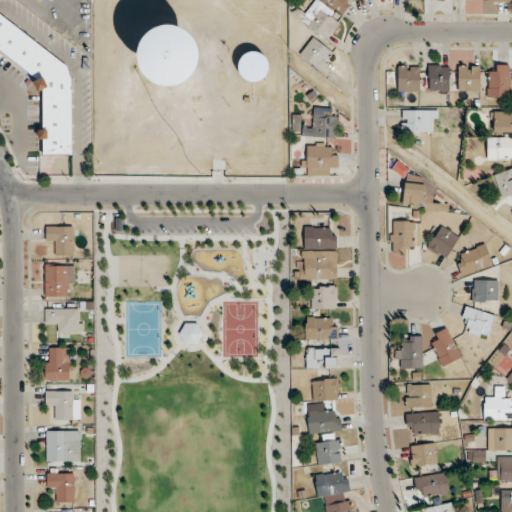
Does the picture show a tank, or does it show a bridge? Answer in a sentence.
This aerial view contains a tank.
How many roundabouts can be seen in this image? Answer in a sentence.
I count no roundabouts.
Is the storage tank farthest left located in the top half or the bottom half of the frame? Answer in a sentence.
The storage tank farthest left is in the top half of the image.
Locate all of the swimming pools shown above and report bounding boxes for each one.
[470,112,488,134]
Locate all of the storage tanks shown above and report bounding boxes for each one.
[137,24,199,86]
[236,50,269,98]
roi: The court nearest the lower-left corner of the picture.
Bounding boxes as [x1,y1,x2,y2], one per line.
[126,302,162,357]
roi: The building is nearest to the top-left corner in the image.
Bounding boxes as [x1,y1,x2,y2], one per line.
[0,13,72,154]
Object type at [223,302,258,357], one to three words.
basketball court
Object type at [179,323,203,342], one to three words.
building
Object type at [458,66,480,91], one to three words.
house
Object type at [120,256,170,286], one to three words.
sports court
